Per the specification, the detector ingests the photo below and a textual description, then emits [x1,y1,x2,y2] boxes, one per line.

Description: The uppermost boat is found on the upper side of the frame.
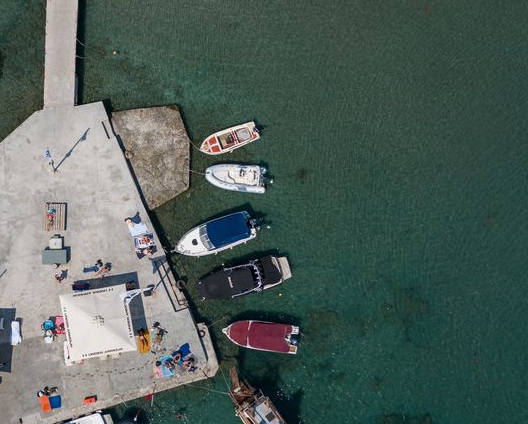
[200,122,264,154]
